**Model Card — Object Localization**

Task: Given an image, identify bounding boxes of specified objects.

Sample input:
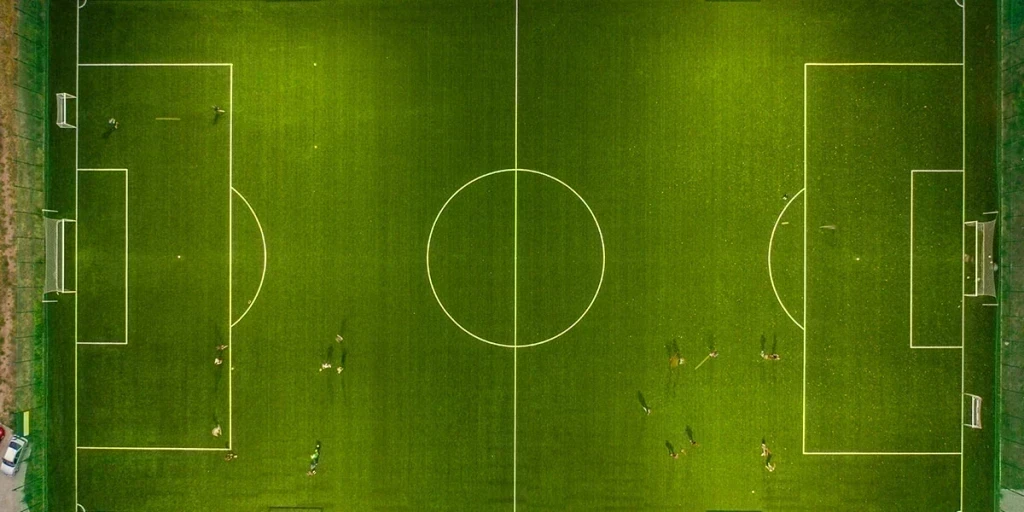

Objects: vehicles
[0,423,7,445]
[0,434,29,475]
